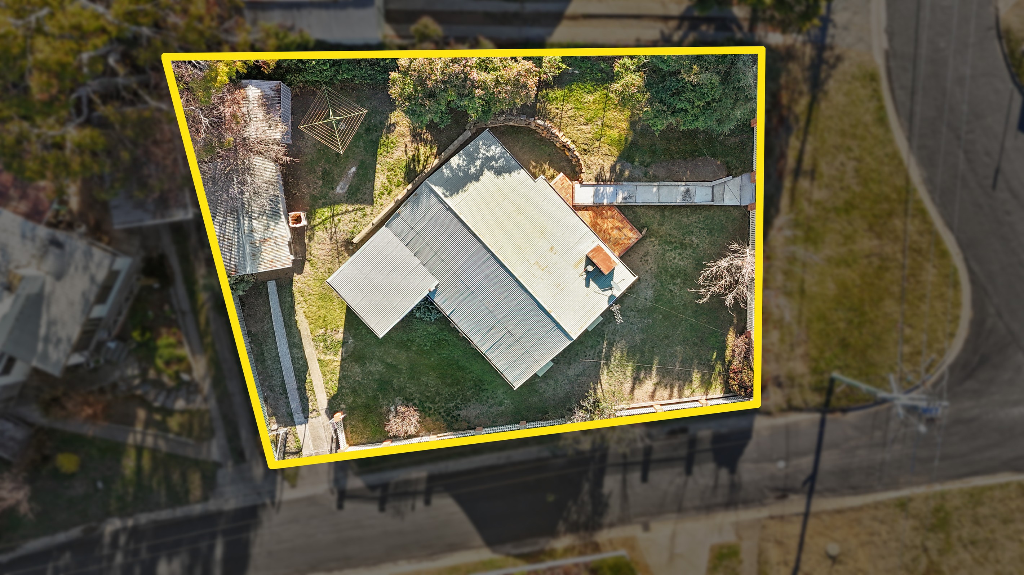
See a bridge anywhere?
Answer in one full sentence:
No, no bridge is visible in the scene.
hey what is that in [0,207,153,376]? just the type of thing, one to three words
house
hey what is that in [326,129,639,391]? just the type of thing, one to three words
house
